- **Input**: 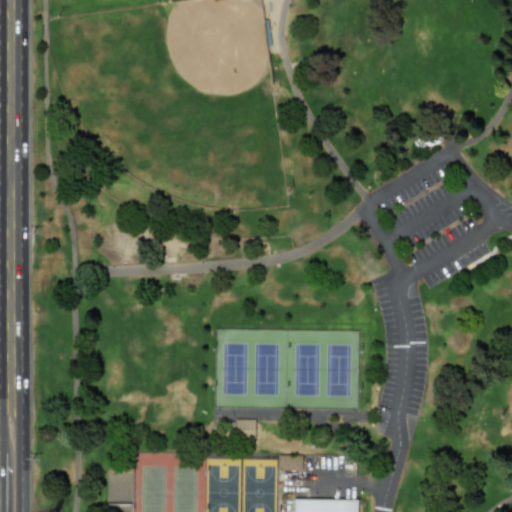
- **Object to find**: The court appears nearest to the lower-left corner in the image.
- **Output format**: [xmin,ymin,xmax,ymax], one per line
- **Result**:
[135,453,170,512]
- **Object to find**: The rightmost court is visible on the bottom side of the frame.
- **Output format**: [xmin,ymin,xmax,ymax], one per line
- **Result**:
[324,330,360,408]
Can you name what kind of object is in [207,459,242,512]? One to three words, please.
basketball court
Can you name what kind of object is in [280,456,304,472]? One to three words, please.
shed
